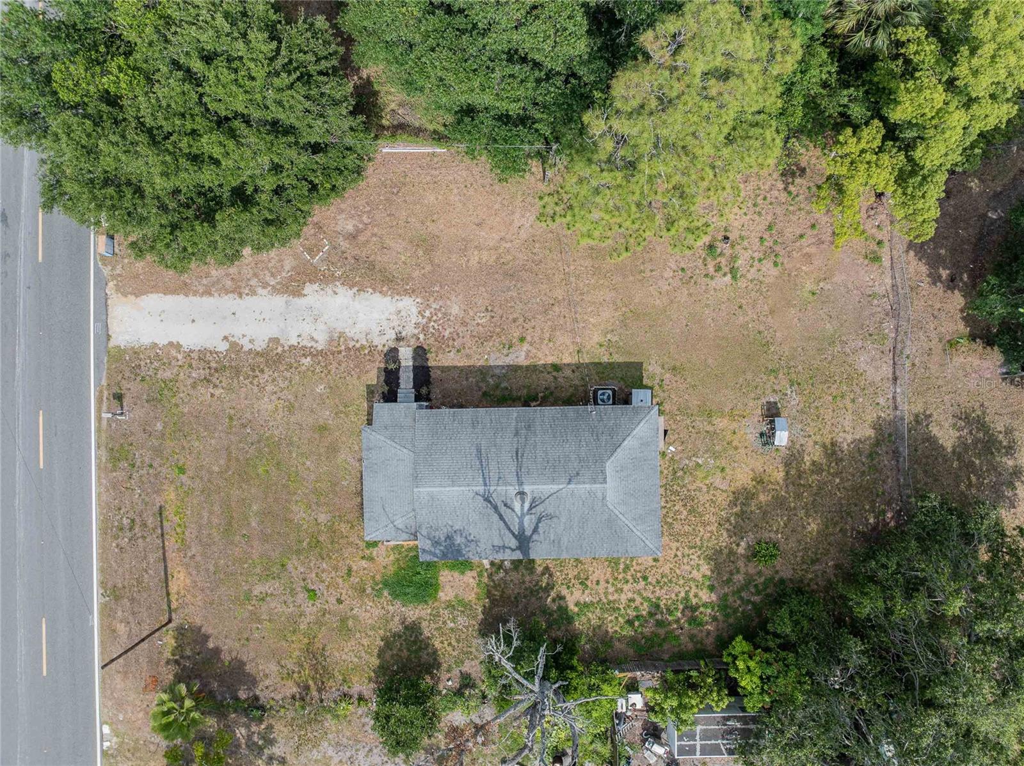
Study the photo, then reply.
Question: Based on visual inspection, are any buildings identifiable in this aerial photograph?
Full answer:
Yes, the picture does show a building.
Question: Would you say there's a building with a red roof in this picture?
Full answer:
No, the scene contains no building with a red roof.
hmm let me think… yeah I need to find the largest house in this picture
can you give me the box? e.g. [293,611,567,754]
[360,401,664,562]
